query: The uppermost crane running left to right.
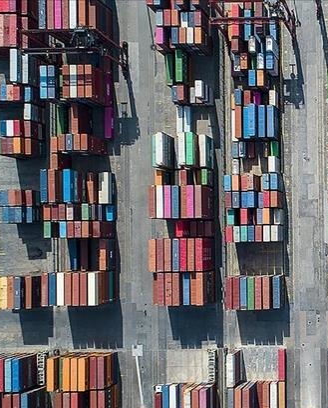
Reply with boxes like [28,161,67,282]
[208,0,299,45]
